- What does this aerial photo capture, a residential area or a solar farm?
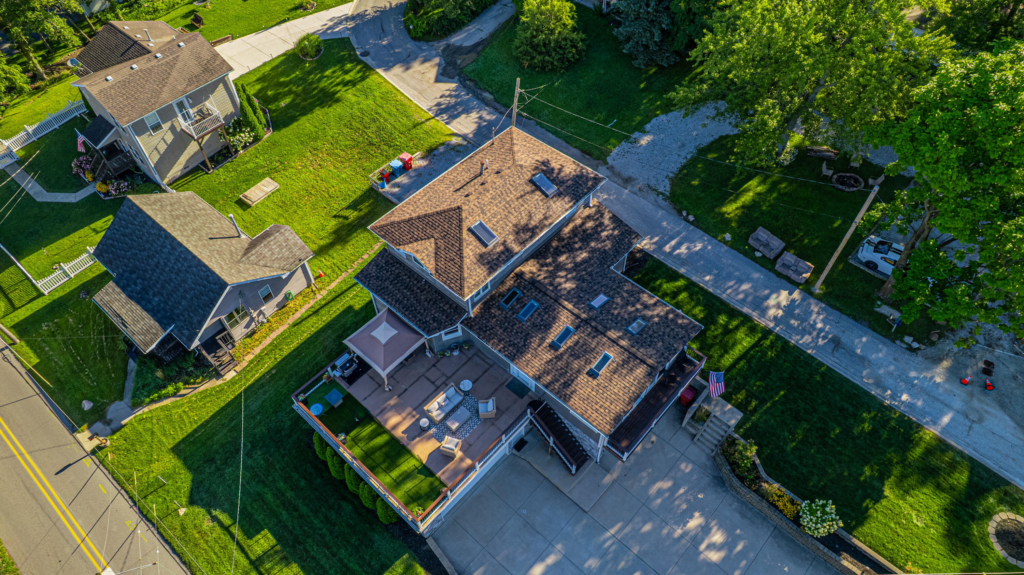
residential area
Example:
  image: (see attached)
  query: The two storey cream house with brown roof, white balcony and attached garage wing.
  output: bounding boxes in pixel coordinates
[71,19,248,193]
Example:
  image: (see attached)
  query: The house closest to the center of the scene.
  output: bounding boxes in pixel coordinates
[352,124,704,469]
